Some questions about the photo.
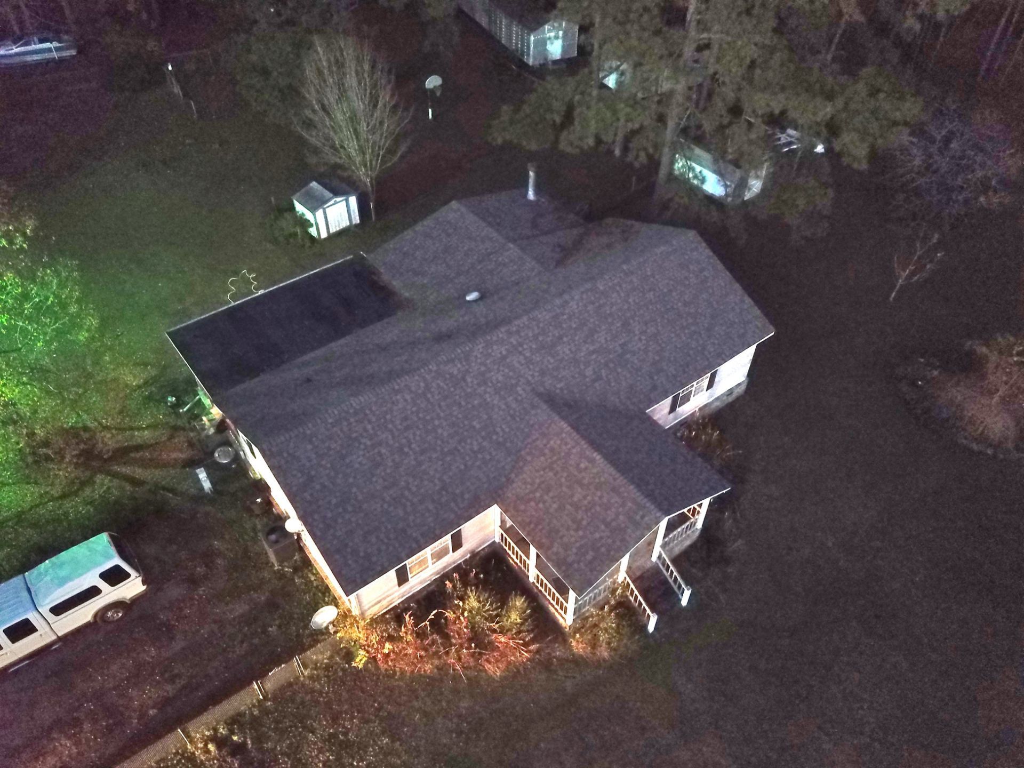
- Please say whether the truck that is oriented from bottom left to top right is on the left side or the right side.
left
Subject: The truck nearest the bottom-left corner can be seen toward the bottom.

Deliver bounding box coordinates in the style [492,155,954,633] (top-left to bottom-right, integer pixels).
[0,534,150,675]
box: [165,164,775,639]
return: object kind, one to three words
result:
house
